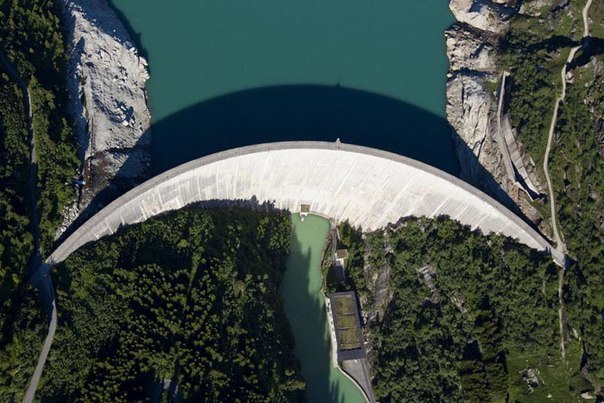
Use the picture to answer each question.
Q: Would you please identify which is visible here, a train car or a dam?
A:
dam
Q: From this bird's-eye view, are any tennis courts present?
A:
No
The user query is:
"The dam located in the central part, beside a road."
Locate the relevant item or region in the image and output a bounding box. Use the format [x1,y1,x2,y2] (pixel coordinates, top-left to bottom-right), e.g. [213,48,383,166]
[40,139,552,271]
